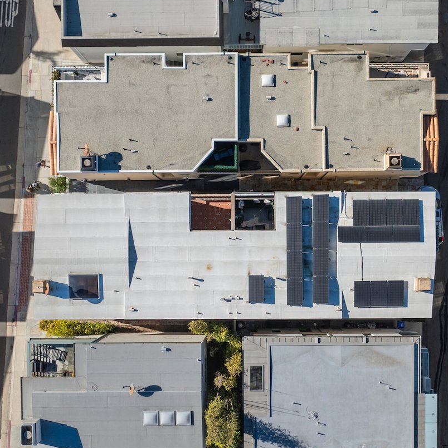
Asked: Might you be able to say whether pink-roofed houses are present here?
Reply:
No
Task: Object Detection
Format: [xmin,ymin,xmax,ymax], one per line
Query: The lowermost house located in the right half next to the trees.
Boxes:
[242,330,437,448]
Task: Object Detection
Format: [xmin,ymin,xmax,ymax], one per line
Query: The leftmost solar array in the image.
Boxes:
[246,276,267,303]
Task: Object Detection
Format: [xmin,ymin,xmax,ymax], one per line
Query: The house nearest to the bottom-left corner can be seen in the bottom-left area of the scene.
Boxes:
[21,335,207,448]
